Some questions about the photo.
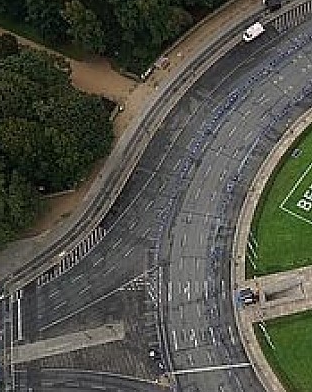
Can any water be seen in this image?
No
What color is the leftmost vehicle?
white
